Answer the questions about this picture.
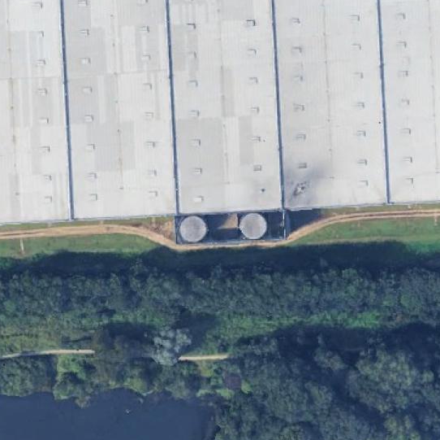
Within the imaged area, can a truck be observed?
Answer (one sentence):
No, the frame has no truck in it.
